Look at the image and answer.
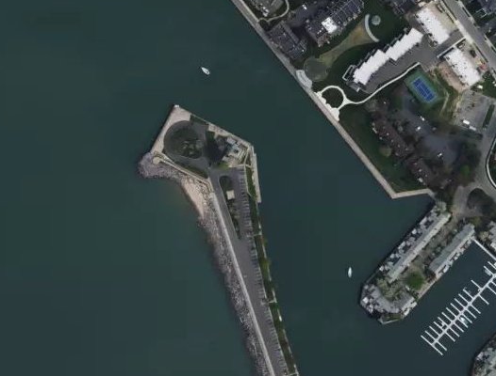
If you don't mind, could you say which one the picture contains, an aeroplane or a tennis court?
tennis court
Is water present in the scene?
Yes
